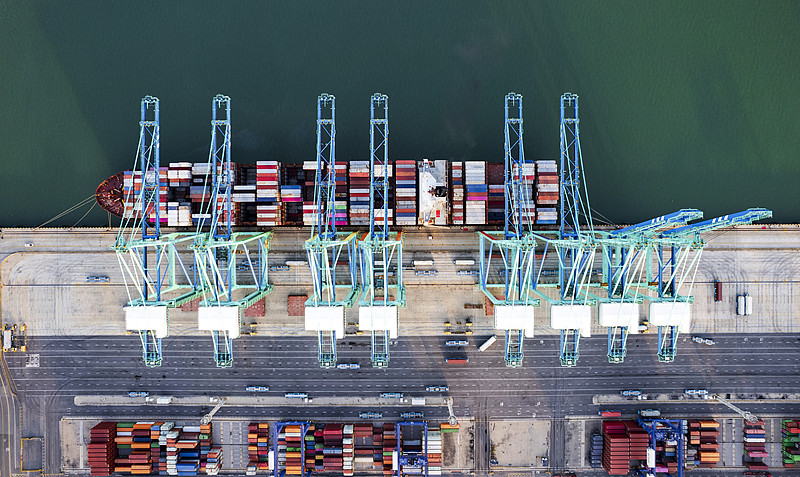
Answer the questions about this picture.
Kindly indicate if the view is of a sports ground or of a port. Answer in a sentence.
What you see here is a port.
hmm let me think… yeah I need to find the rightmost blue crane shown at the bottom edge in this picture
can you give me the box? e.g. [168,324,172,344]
[636,418,684,477]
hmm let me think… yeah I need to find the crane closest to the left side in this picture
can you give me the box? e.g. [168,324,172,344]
[114,94,212,369]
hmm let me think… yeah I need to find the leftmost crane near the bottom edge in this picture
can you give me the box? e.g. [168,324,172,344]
[271,419,314,477]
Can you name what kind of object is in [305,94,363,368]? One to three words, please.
container crane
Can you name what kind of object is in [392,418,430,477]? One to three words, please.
crane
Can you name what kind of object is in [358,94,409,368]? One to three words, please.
container crane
